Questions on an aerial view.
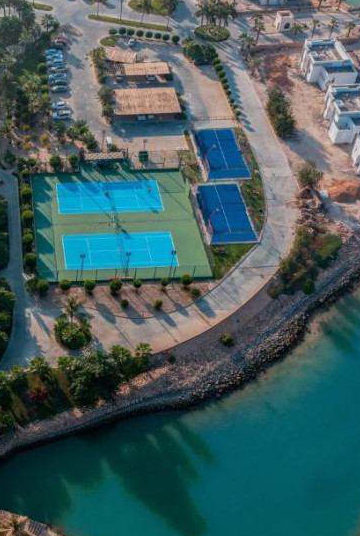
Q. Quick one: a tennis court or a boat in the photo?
tennis court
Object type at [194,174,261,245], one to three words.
sports court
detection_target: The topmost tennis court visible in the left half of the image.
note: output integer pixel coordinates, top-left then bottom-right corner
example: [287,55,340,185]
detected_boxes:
[56,179,164,214]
